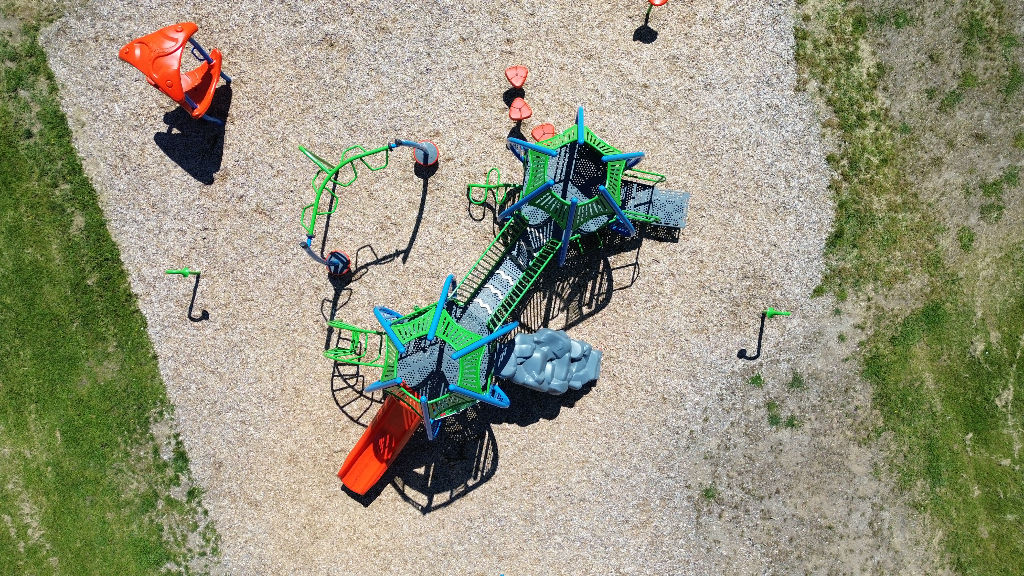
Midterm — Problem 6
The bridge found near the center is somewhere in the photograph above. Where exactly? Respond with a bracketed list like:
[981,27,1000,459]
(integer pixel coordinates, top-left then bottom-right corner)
[450,212,561,330]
